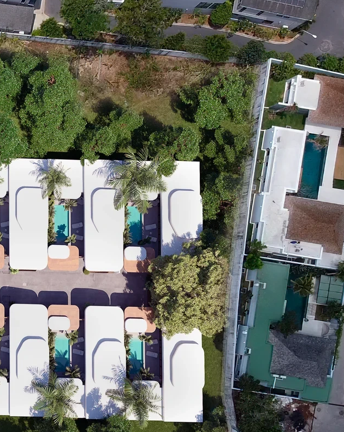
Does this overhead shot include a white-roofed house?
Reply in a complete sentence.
Yes, a white-roofed house can be made out from above.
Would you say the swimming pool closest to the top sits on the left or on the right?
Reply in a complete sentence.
You can find the swimming pool closest to the top on the right side of the picture.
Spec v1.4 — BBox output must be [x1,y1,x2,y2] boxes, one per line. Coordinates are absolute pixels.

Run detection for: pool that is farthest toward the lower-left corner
[52,333,72,376]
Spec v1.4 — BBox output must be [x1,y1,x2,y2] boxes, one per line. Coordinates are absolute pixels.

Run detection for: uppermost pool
[296,131,331,200]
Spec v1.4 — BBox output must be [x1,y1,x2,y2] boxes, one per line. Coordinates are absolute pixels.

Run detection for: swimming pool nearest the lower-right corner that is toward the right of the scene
[284,273,311,330]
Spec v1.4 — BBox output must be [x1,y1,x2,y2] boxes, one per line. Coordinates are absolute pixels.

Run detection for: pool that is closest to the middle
[126,203,145,246]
